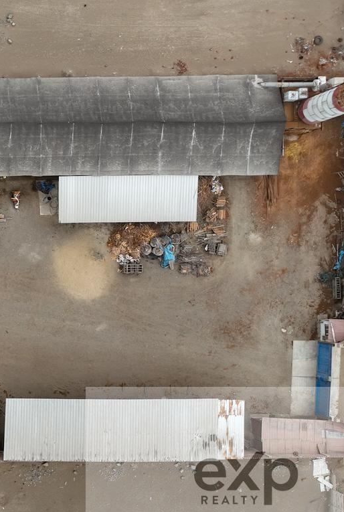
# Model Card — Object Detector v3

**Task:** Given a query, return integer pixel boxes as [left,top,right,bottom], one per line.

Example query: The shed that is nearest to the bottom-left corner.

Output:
[1,398,245,462]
